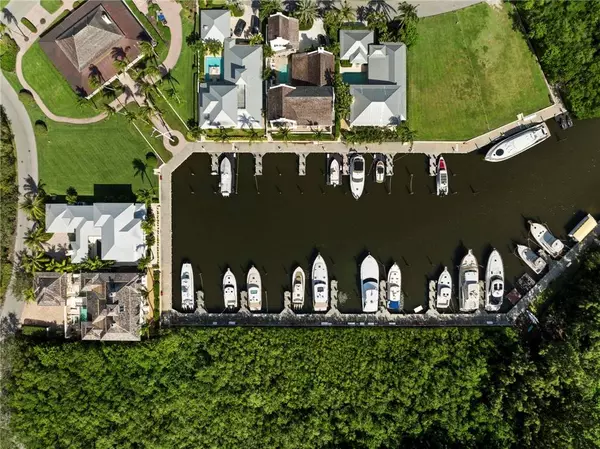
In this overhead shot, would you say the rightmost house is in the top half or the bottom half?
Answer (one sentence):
Seen from above, the rightmost house lies in the top half of the view.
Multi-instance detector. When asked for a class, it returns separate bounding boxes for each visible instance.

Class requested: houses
[81,273,146,342]
[41,0,156,99]
[46,203,150,264]
[33,273,71,307]
[199,9,264,130]
[340,30,407,128]
[268,8,335,132]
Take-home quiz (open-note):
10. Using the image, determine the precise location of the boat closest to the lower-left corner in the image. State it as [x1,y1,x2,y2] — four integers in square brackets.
[180,263,199,308]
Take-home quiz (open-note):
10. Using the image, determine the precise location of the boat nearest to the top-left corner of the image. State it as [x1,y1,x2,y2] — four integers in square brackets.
[218,157,236,198]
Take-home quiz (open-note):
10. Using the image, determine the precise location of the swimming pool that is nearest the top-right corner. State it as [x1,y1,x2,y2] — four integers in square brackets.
[340,72,368,85]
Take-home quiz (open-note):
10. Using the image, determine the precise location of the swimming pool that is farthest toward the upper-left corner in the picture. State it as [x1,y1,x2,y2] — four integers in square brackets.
[204,55,223,85]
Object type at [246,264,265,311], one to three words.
boat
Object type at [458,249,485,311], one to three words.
boat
